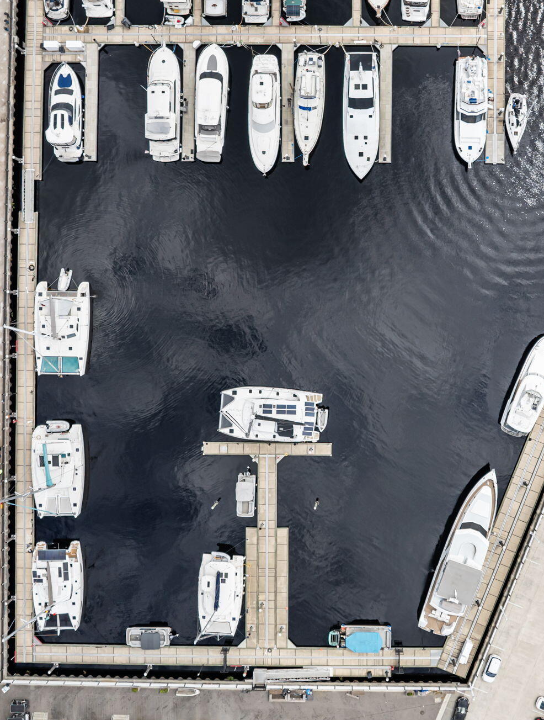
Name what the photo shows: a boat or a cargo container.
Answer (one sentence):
The image shows a boat.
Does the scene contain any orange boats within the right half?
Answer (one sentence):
No, within the right half there is no orange boat.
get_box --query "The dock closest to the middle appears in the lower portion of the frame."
[203,441,332,456]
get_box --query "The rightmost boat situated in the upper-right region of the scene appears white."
[504,93,536,150]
